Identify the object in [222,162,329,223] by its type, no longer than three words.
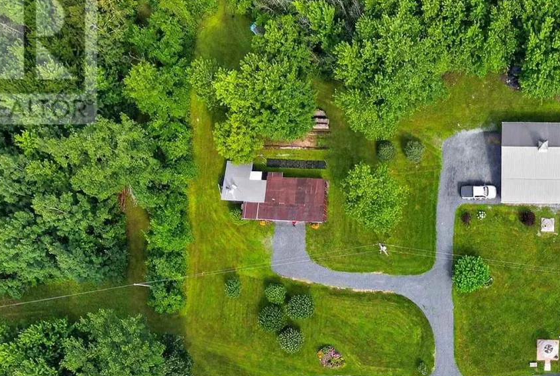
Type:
shed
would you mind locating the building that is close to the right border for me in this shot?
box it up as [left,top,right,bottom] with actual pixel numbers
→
[502,121,560,206]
